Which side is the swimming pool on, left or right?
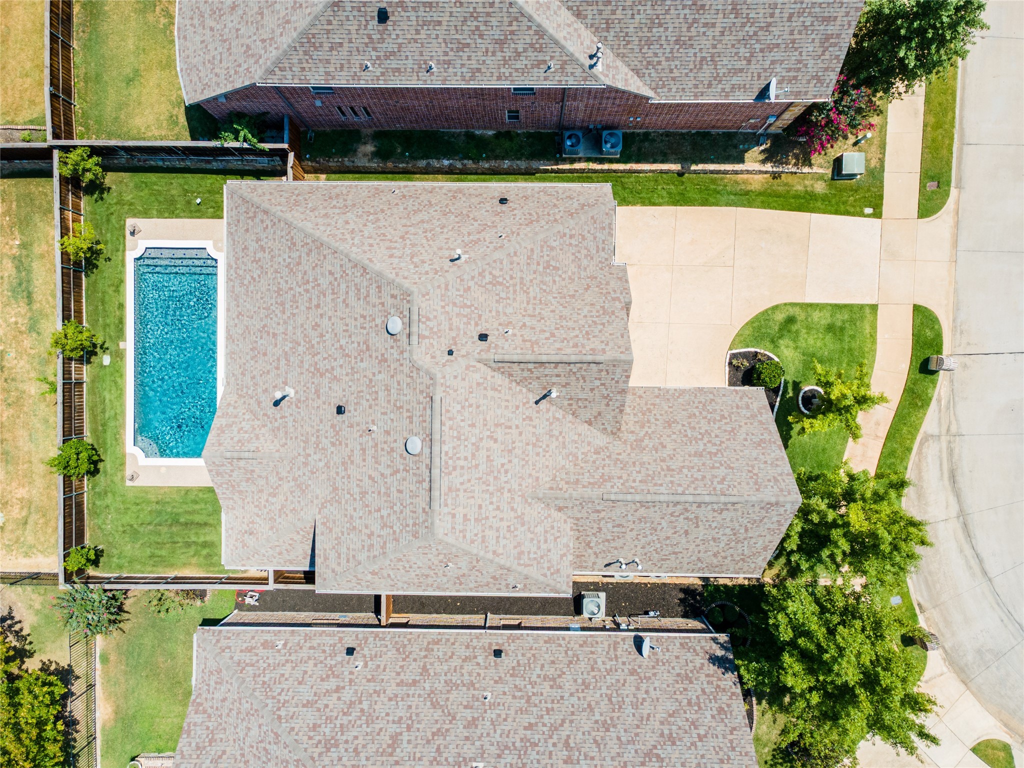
left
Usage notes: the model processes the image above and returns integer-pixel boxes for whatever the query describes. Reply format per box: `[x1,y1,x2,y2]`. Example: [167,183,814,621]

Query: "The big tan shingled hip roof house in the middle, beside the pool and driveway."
[201,179,802,599]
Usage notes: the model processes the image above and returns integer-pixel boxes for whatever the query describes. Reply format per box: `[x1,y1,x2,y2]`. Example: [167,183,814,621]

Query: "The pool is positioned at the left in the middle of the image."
[124,240,223,466]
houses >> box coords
[169,607,761,768]
[179,0,866,141]
[201,179,802,599]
